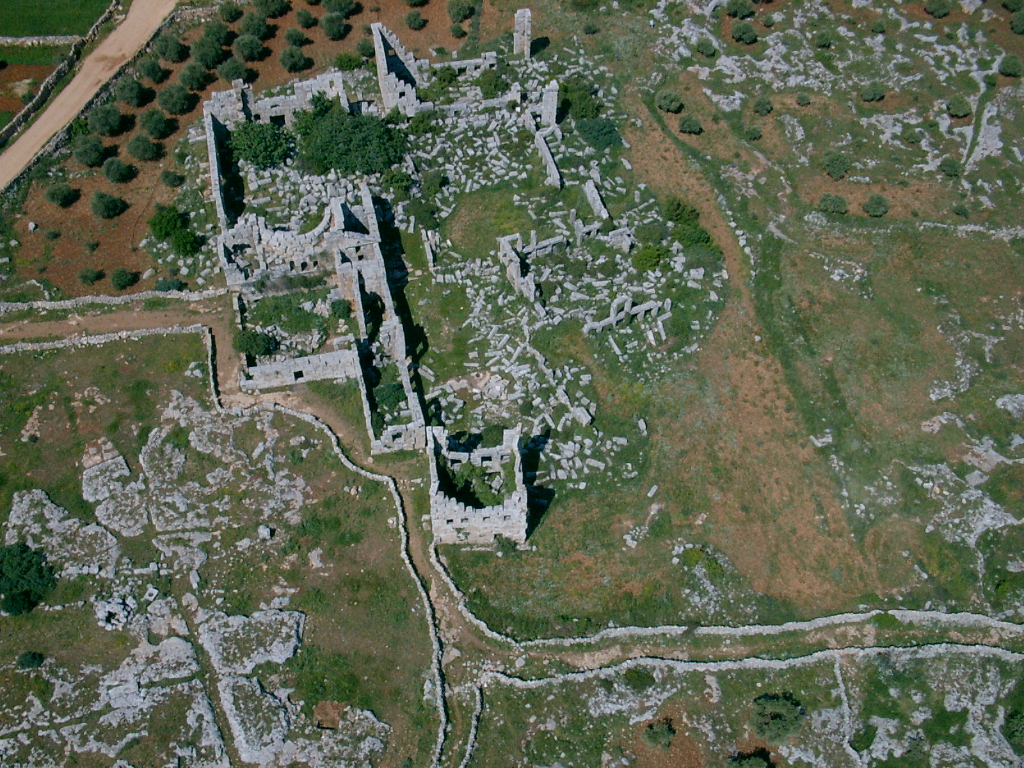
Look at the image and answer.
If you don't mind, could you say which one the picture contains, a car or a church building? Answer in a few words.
church building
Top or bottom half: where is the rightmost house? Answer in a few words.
top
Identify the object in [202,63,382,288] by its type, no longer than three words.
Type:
church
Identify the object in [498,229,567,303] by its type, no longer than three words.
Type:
house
